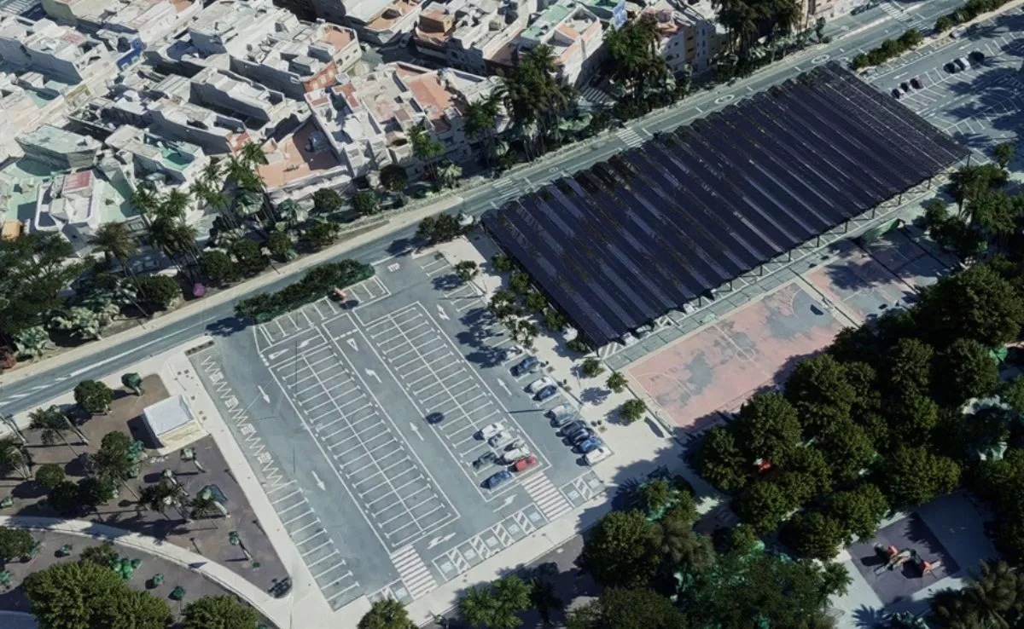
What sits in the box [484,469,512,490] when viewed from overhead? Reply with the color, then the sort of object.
blue car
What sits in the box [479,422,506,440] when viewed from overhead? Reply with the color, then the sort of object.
white car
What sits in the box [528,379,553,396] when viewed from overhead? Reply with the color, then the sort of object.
white car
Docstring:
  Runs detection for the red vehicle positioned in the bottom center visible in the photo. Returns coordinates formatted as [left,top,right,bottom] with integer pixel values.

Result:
[512,457,539,475]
